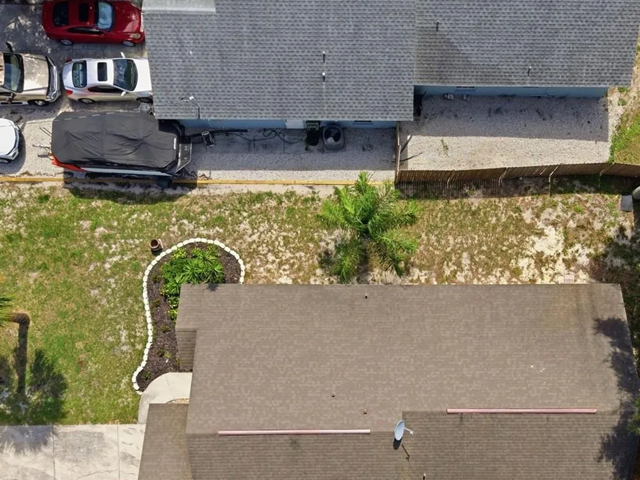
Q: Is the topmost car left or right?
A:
left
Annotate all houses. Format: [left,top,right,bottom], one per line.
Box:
[139,283,638,480]
[142,0,640,130]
